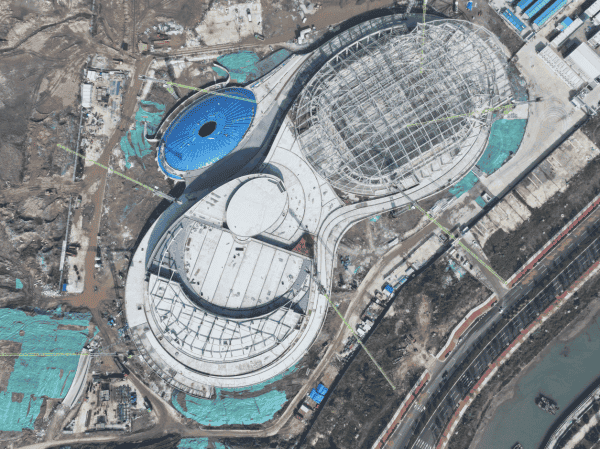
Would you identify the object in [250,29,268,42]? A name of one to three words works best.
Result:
vehicle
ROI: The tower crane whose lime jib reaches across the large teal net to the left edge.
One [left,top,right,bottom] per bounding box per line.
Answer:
[0,340,140,360]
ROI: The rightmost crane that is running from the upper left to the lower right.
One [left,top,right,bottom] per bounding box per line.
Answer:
[391,183,507,285]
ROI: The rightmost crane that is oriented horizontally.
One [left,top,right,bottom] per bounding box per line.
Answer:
[407,96,539,128]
